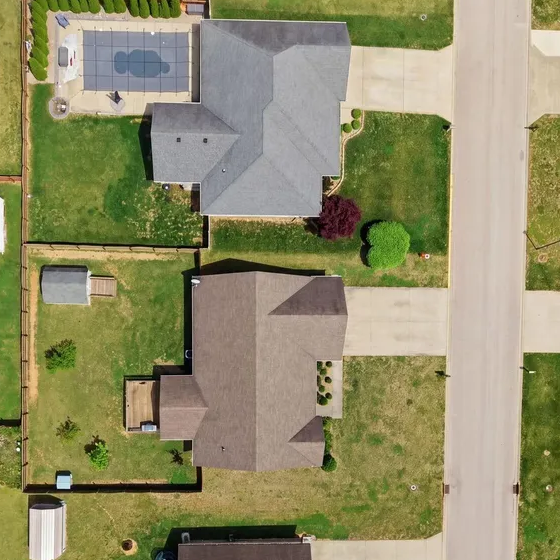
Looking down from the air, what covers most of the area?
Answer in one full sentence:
The scene is dominated by grass.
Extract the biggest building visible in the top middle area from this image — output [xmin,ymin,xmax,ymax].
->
[150,18,352,219]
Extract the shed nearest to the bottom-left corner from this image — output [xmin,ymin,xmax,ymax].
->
[30,506,66,560]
